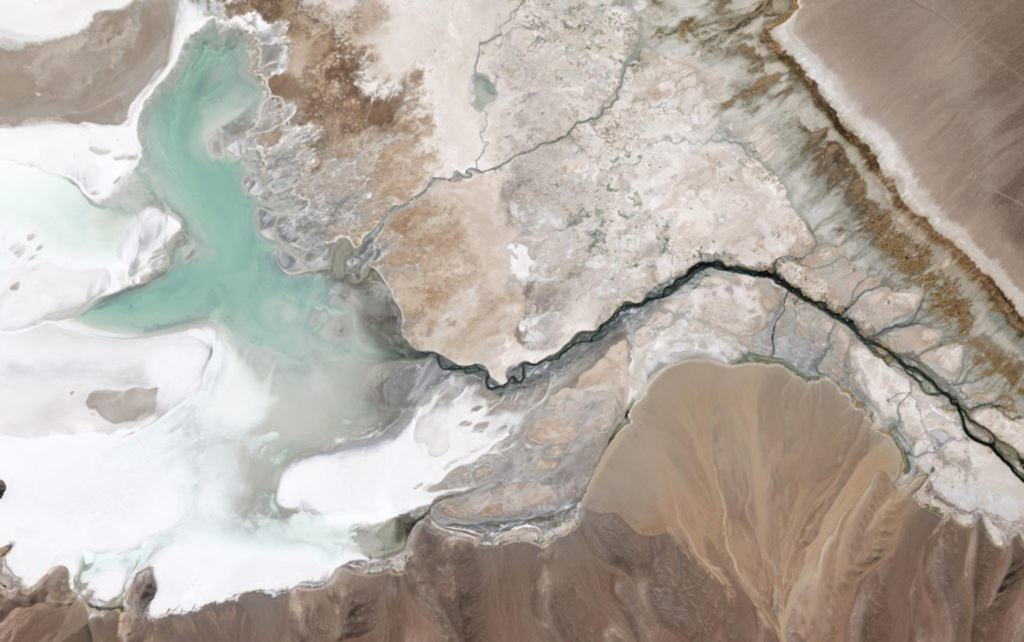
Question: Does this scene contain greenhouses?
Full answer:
No, the photo shows no greenhouse.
